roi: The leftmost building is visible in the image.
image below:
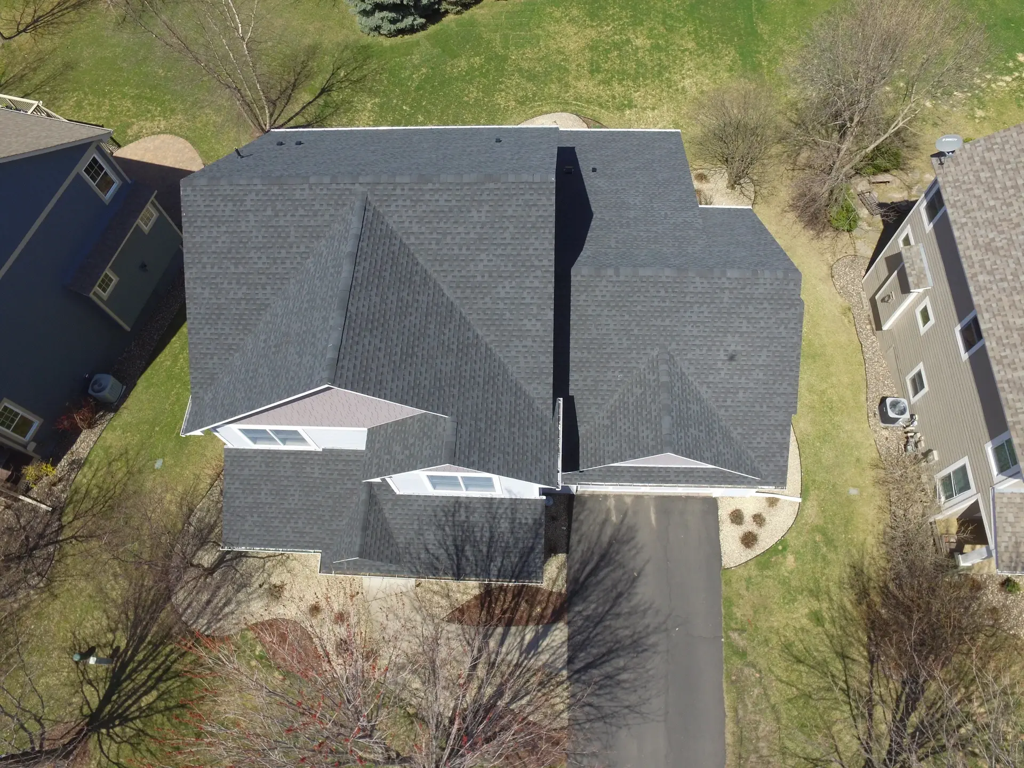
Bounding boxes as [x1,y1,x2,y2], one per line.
[0,101,182,455]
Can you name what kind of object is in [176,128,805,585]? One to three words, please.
house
